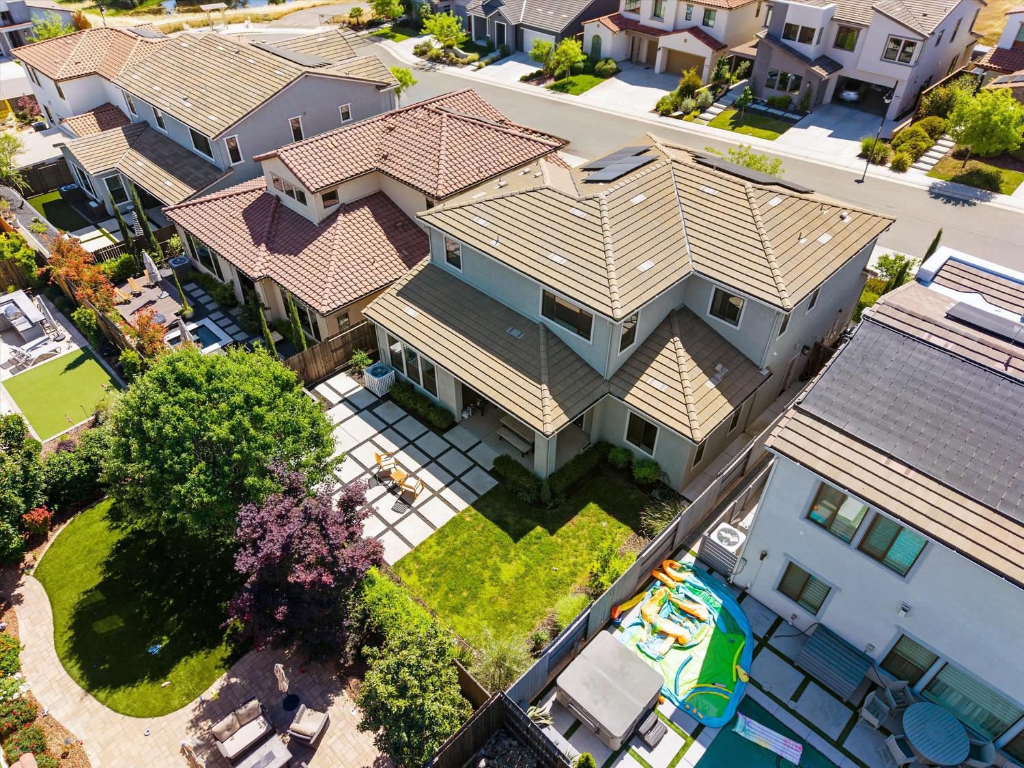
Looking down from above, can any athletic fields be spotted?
No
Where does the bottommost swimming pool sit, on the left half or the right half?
right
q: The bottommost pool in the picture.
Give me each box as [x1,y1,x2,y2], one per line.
[697,698,838,768]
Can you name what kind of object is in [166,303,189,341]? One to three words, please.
umbrella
